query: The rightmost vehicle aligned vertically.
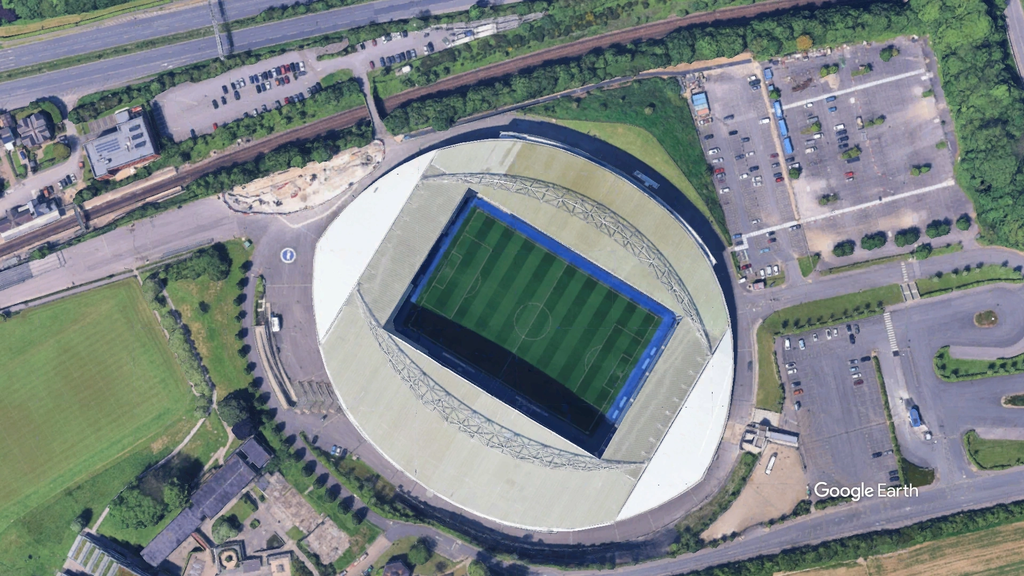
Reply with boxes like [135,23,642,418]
[909,407,921,427]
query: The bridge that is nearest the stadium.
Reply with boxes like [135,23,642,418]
[357,84,389,141]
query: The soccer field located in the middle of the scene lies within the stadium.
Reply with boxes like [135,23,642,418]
[400,203,666,440]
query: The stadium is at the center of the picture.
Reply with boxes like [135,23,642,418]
[312,132,735,533]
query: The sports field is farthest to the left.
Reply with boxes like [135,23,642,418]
[0,278,194,517]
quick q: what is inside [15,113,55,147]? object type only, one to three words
house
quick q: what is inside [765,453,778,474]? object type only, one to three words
vehicle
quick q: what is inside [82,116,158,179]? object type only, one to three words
building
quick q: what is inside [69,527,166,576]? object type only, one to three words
building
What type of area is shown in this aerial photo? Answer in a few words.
sports ground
